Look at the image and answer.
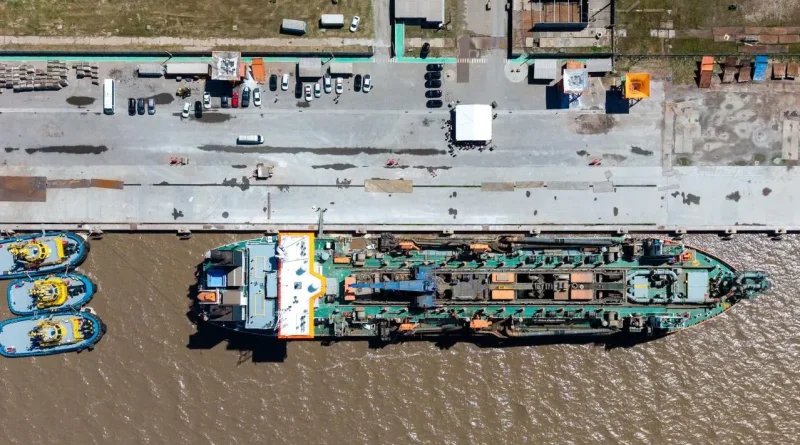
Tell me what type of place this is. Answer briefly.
port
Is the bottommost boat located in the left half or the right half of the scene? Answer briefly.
left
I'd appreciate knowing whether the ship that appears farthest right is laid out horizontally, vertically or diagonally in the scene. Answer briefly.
horizontally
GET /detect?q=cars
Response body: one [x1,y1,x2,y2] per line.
[426,81,441,87]
[253,89,261,105]
[305,85,312,101]
[221,95,228,109]
[128,98,137,115]
[194,101,202,118]
[183,102,191,118]
[138,98,145,114]
[231,94,238,108]
[420,42,429,59]
[204,93,211,108]
[269,75,277,91]
[426,100,441,107]
[314,84,320,97]
[281,74,288,90]
[426,64,441,71]
[363,75,370,92]
[148,98,155,114]
[426,90,441,98]
[242,87,250,107]
[295,82,302,98]
[424,73,441,80]
[336,77,343,94]
[354,75,362,91]
[350,16,359,31]
[324,75,331,91]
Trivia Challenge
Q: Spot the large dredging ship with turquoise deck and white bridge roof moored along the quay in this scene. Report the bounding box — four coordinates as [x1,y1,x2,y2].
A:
[198,232,771,340]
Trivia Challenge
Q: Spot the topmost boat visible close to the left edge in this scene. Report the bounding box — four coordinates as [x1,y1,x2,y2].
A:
[0,233,94,277]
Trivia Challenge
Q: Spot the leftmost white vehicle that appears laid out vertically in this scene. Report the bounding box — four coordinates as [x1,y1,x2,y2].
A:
[102,78,115,114]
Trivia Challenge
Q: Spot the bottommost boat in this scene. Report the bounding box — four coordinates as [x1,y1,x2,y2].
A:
[0,312,108,355]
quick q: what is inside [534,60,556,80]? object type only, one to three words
shed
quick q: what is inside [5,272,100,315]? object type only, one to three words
boat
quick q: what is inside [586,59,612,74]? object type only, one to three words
shed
